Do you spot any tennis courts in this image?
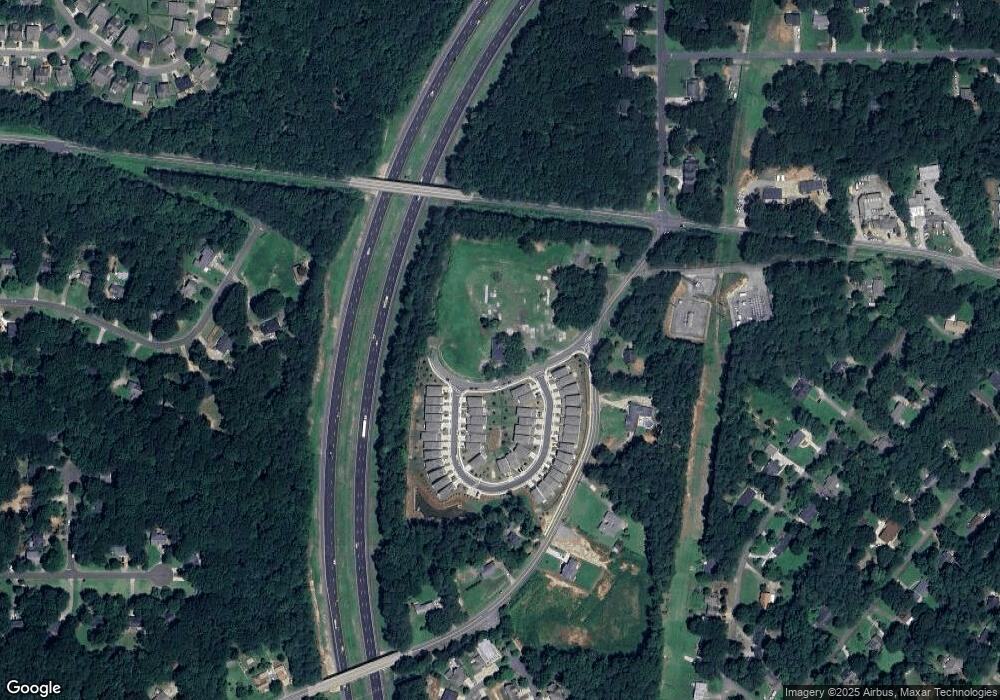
No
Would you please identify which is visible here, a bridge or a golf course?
bridge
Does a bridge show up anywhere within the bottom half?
Yes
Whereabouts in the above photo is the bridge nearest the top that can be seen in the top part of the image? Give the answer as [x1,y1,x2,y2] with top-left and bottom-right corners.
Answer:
[349,177,473,201]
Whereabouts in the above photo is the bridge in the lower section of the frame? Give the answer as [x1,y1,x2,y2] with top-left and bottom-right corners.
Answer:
[303,650,405,697]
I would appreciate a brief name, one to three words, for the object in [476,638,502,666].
house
